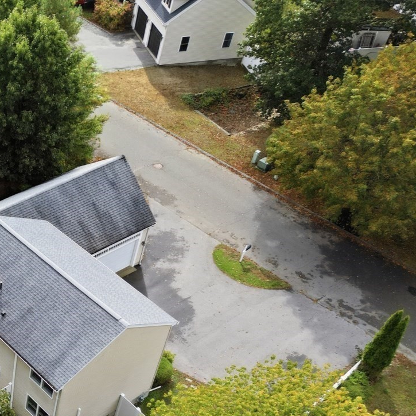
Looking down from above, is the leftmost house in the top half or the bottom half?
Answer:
bottom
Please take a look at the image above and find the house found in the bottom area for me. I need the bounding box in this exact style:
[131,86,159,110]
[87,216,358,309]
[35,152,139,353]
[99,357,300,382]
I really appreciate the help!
[0,154,177,416]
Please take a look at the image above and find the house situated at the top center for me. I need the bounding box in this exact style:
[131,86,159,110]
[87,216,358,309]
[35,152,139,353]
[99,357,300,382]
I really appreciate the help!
[120,0,257,65]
